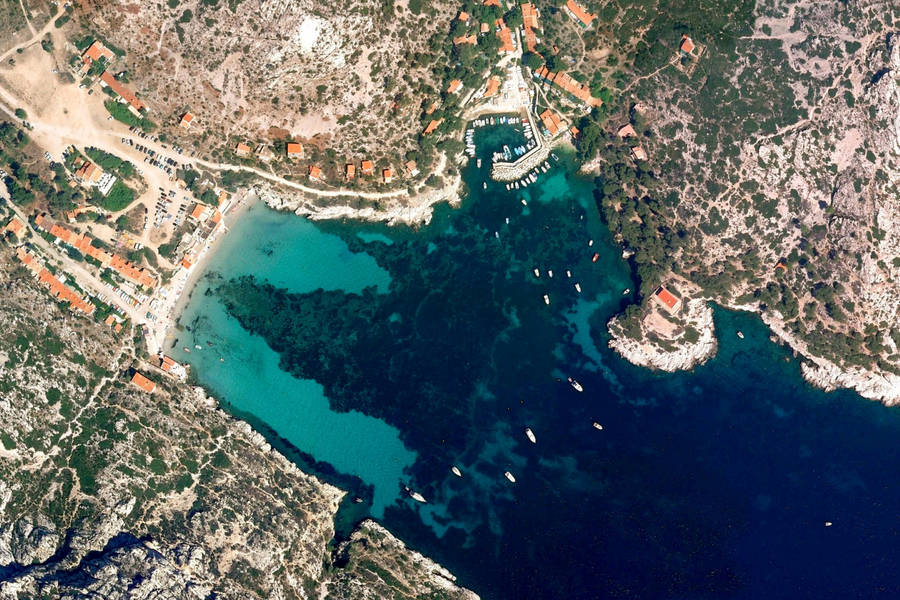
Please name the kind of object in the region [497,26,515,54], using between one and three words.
house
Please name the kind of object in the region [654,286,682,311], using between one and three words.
house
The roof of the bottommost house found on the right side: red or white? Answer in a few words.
red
